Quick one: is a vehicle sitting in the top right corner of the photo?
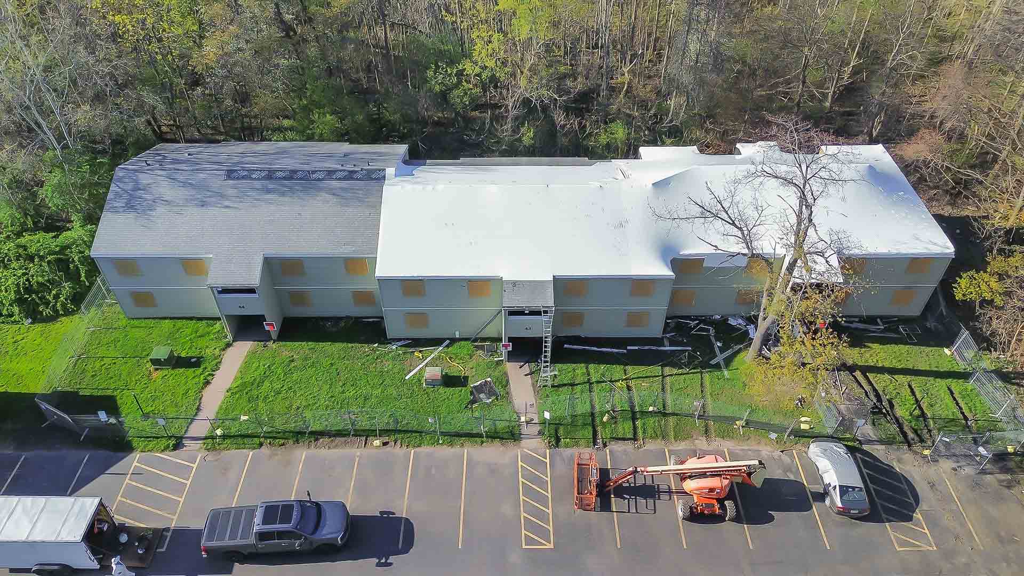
No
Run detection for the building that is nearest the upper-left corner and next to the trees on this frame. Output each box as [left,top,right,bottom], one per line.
[90,142,405,340]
